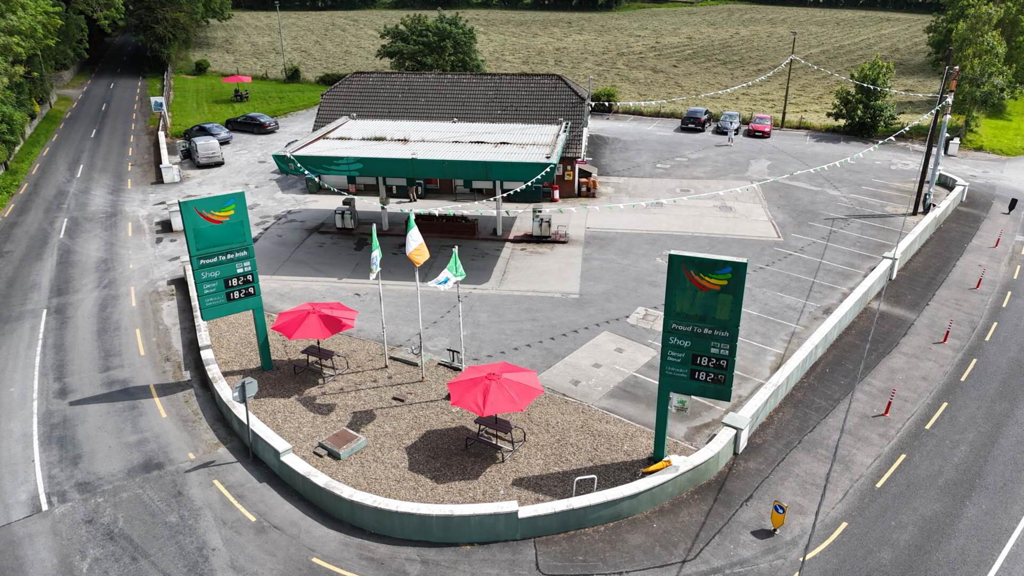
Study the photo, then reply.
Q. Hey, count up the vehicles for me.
6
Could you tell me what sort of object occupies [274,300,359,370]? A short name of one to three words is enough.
umbrella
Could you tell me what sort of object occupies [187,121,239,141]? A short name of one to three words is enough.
car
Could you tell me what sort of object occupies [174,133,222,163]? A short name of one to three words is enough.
van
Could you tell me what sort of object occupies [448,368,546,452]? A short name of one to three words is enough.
umbrella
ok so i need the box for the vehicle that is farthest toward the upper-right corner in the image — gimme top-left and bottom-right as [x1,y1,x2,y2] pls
[749,113,776,137]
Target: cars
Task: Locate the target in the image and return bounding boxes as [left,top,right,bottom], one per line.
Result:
[717,110,744,134]
[685,108,714,130]
[187,121,239,141]
[749,113,776,137]
[228,112,278,132]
